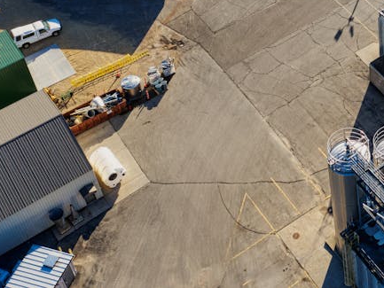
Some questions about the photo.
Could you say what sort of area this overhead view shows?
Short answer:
industrial area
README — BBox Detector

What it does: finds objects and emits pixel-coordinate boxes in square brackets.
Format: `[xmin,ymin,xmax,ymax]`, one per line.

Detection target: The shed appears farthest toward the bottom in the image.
[6,246,80,288]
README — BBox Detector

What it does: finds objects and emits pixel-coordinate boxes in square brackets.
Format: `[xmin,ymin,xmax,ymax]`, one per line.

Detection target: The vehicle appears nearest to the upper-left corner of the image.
[8,22,63,50]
